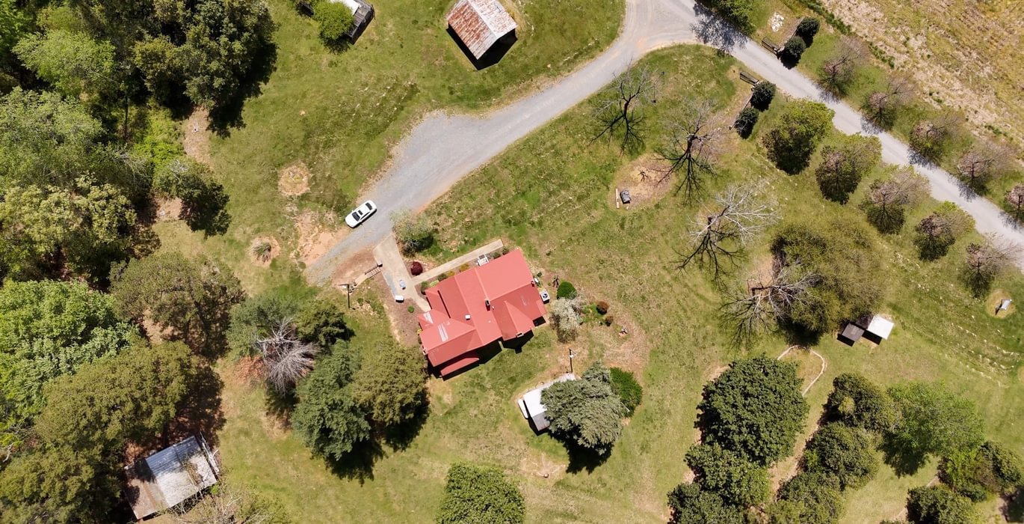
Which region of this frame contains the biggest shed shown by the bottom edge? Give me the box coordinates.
[116,431,223,517]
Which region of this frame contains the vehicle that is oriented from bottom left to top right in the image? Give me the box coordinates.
[345,200,377,228]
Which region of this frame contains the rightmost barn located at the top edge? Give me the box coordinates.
[444,0,516,60]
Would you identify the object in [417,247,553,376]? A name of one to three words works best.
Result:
house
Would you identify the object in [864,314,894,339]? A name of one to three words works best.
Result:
shed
